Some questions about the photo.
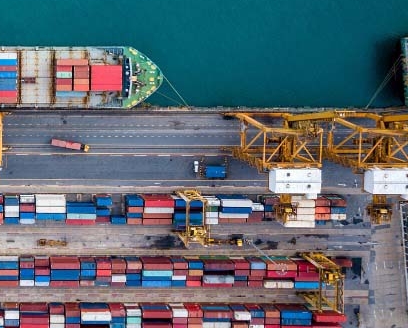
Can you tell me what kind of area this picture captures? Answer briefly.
port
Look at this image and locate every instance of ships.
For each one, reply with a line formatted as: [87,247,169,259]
[0,41,163,111]
[385,39,408,109]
